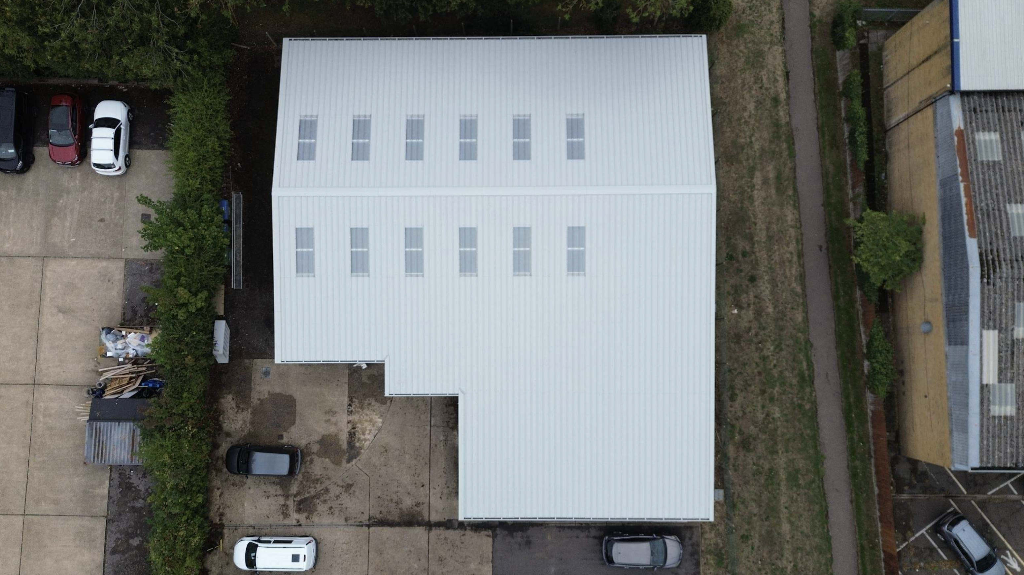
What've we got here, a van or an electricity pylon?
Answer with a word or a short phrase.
van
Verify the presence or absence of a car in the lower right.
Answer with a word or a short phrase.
Yes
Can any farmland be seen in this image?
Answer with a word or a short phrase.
No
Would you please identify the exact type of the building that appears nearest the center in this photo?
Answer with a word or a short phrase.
warehouse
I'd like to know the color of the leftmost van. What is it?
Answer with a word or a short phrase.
black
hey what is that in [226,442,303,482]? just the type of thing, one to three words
car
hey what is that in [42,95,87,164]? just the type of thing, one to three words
car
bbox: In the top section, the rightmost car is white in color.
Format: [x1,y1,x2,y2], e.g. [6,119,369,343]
[88,103,134,176]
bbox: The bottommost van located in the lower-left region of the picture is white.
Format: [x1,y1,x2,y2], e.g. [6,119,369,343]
[235,533,320,575]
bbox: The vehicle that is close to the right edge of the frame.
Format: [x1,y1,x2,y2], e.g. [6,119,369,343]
[933,504,1005,575]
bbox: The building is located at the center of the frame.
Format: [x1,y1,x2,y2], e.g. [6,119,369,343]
[271,34,716,520]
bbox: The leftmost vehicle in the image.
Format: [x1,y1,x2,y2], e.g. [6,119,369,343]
[0,88,35,173]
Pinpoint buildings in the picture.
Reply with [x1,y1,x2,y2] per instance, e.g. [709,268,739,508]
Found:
[887,95,1024,474]
[271,34,716,520]
[84,397,182,465]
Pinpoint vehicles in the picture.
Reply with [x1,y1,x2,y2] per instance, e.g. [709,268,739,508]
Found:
[601,532,682,575]
[933,504,1005,575]
[88,103,134,176]
[0,88,35,173]
[226,442,303,482]
[42,95,87,164]
[235,533,320,575]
